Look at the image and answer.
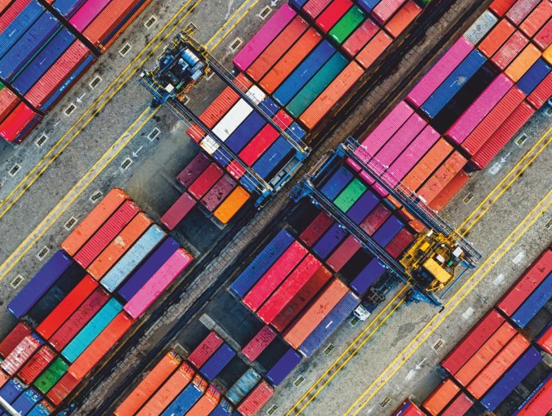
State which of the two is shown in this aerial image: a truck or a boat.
truck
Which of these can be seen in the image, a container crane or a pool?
container crane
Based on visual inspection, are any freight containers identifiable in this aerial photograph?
Yes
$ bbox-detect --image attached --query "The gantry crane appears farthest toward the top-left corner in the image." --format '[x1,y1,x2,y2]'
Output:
[130,21,322,219]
